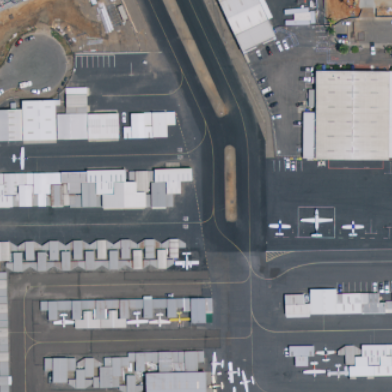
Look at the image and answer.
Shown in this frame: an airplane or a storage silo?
airplane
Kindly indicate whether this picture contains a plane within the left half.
Yes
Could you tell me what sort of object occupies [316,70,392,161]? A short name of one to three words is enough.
hangar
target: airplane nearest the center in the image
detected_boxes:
[175,252,200,270]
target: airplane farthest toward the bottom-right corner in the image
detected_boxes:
[328,363,349,378]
